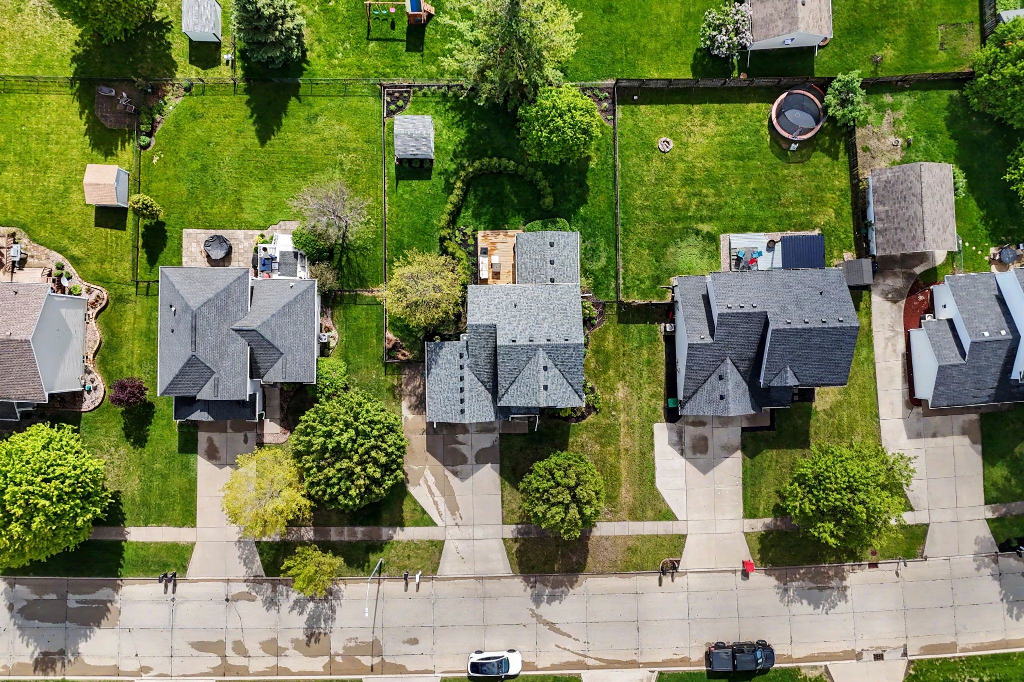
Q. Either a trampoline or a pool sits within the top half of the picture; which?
trampoline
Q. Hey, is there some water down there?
No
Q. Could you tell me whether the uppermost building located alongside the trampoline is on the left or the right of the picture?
right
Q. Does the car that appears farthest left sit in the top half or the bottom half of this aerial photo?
bottom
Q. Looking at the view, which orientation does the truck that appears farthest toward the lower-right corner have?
from side to side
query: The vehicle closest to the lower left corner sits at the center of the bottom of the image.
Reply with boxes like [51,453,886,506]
[468,651,522,680]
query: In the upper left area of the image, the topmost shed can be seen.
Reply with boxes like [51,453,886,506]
[183,0,222,42]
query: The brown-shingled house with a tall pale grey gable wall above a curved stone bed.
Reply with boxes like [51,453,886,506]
[0,282,84,421]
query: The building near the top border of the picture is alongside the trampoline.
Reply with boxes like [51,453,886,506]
[743,0,834,63]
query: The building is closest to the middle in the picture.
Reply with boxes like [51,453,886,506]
[425,230,585,428]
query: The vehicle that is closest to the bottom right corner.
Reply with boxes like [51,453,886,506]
[707,641,776,674]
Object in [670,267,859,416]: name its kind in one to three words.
house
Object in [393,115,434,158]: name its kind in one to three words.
shed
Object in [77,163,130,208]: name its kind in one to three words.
shed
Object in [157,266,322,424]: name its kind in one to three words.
house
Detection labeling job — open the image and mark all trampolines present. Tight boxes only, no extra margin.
[769,81,831,143]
